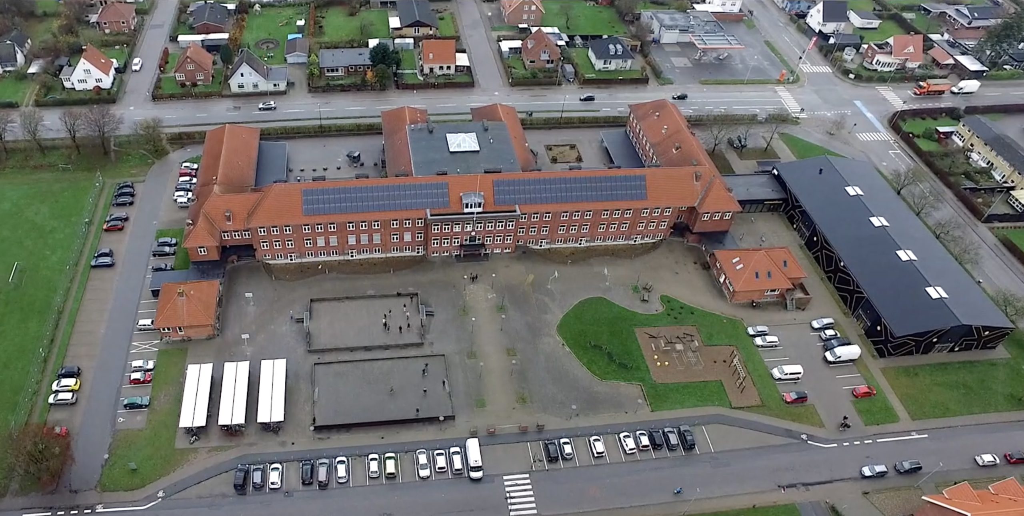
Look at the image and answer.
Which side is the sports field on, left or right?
left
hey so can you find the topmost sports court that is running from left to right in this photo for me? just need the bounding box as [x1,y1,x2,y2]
[299,290,430,352]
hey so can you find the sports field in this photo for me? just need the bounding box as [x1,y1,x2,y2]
[0,171,98,492]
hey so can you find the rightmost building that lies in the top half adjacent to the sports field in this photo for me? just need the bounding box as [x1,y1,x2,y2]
[183,99,743,266]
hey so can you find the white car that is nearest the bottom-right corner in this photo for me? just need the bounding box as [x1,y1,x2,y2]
[973,452,999,468]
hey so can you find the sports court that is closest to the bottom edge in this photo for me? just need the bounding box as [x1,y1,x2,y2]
[313,353,456,431]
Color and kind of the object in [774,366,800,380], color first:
white vehicle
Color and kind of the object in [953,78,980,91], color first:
white vehicle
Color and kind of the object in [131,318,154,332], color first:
white car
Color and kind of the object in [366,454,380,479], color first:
white car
